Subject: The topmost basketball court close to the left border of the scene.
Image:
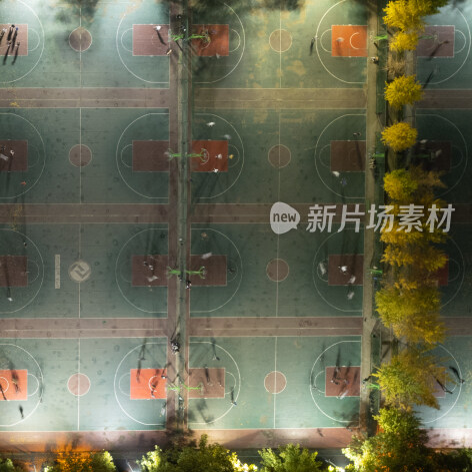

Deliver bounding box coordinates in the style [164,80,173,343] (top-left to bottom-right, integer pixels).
[0,0,171,90]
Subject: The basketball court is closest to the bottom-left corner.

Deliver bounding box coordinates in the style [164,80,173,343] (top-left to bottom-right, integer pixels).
[0,336,167,430]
